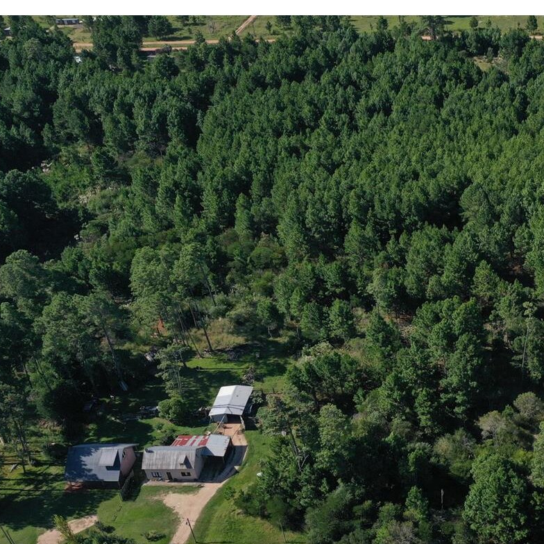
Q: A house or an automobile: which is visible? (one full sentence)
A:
The one in the frame is a house.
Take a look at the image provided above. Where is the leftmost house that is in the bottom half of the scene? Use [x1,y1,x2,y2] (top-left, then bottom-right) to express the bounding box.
[64,442,143,490]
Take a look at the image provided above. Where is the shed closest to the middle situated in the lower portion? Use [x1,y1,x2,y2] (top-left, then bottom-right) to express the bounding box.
[207,385,256,425]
